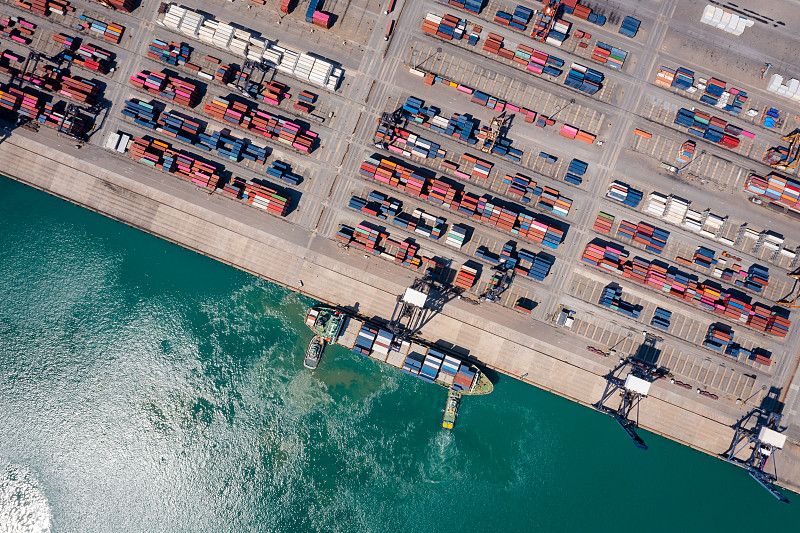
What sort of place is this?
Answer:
port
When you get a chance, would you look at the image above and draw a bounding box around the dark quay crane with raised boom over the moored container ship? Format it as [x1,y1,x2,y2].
[384,269,432,351]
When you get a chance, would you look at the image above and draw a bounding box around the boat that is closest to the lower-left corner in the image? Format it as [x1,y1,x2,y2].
[302,338,322,374]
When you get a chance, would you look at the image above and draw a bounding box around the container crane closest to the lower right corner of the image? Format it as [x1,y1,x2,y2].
[712,408,792,505]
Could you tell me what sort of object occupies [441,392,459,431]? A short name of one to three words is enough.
boat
